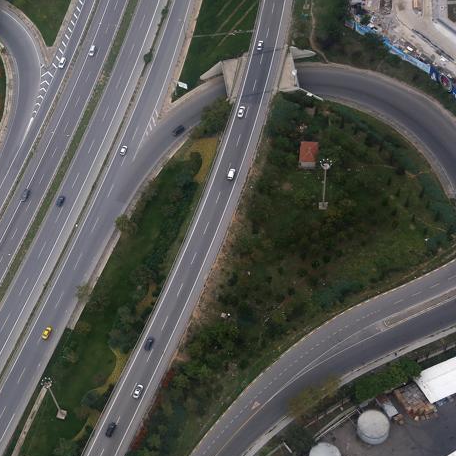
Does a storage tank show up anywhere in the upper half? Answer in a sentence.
No, the scene shows no storage tank in the upper half.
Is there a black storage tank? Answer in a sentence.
No, I can't see a single black storage tank in this photo.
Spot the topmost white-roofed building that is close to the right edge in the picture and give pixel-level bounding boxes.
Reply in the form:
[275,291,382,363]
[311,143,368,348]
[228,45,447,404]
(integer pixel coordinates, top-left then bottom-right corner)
[414,358,456,409]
